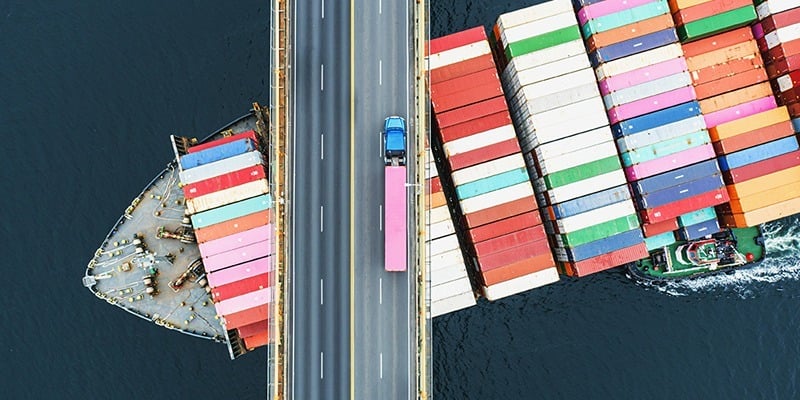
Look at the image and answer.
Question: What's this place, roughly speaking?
port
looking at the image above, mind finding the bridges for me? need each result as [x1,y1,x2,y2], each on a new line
[267,0,431,400]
